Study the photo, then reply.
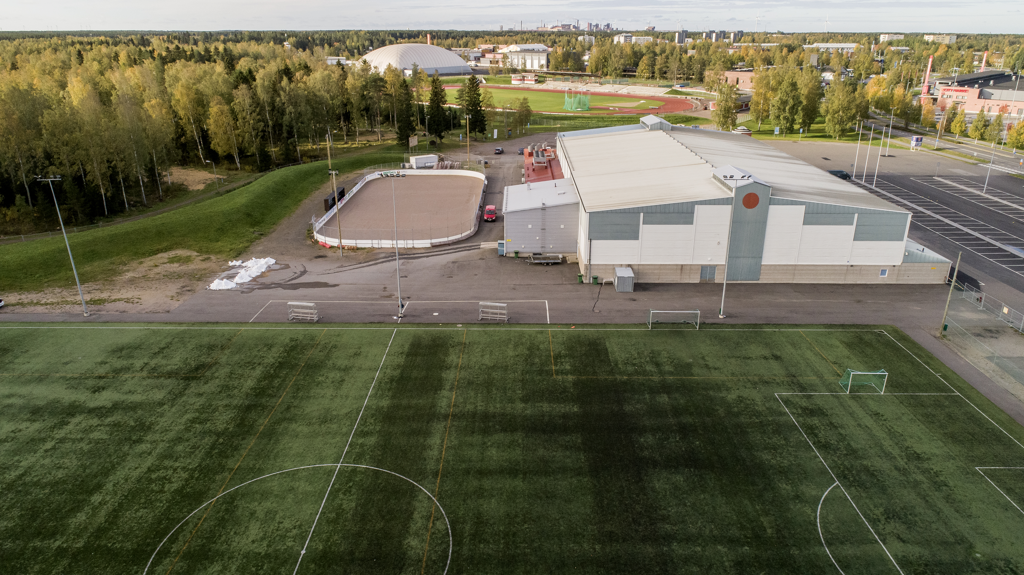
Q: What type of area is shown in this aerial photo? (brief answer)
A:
sports ground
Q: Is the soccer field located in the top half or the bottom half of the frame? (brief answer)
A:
bottom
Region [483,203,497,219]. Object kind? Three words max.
vehicle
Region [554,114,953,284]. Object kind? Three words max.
building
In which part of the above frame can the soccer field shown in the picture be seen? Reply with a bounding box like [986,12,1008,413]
[0,324,1024,575]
